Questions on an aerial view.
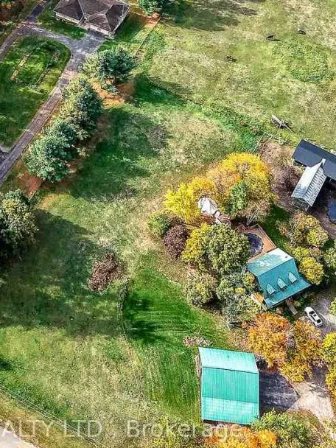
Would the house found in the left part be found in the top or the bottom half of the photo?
top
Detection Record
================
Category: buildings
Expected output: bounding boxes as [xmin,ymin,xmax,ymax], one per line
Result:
[198,347,260,427]
[53,0,131,38]
[290,141,336,212]
[240,248,311,310]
